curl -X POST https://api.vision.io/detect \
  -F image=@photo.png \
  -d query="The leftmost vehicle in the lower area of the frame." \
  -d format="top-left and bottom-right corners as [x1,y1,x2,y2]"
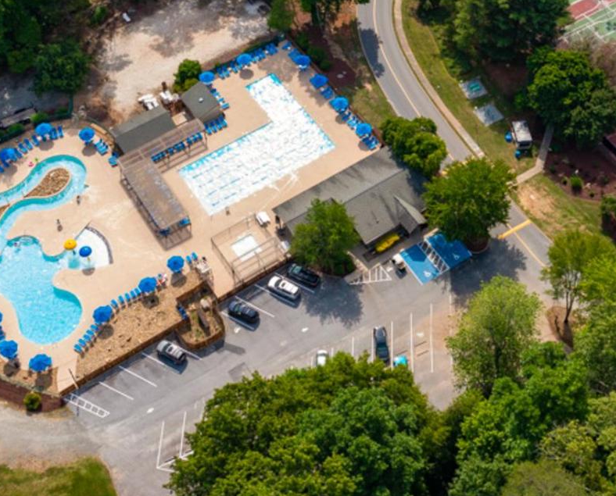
[156,341,187,365]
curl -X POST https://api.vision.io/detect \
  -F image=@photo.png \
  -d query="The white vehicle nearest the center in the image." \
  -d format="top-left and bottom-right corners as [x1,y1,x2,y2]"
[268,277,301,298]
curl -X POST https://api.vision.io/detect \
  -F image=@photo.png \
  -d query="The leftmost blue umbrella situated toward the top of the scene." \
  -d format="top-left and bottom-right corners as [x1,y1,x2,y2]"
[0,150,16,165]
